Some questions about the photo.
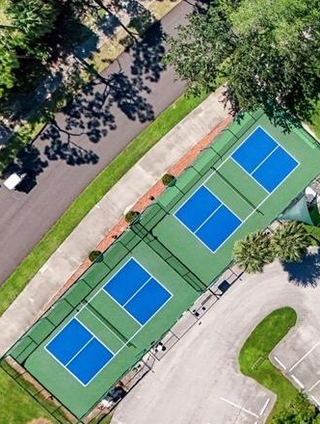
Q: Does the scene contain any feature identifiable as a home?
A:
No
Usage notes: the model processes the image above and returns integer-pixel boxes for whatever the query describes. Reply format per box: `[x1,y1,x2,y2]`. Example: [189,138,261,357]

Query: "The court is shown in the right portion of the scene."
[137,97,320,286]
